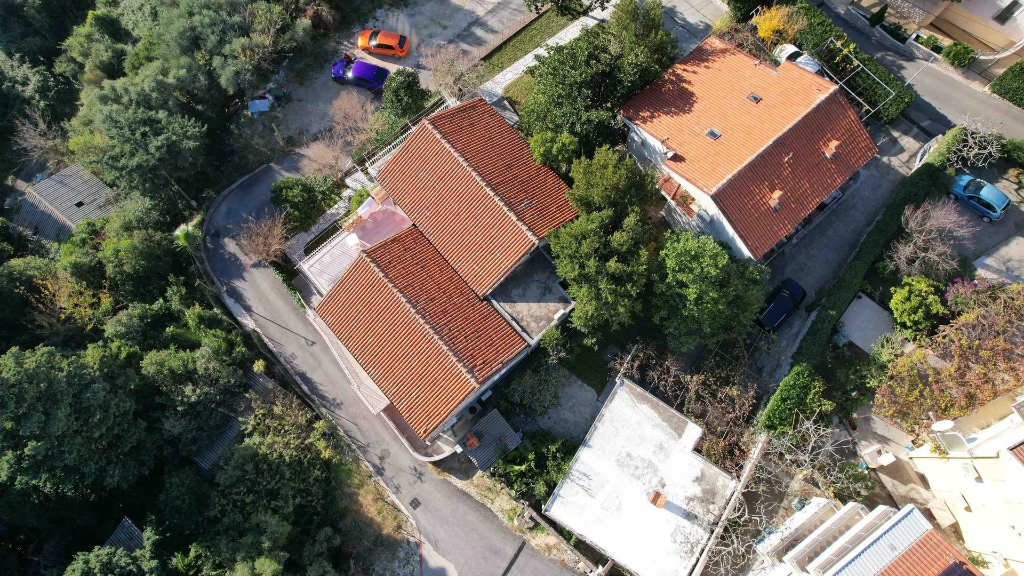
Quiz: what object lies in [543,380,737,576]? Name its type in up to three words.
house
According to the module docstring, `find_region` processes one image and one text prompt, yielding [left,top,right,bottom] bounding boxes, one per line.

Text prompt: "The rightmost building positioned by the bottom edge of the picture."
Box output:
[911,399,1024,576]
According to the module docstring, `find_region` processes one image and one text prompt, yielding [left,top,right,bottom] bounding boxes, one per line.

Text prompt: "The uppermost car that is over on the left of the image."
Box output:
[357,27,411,60]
